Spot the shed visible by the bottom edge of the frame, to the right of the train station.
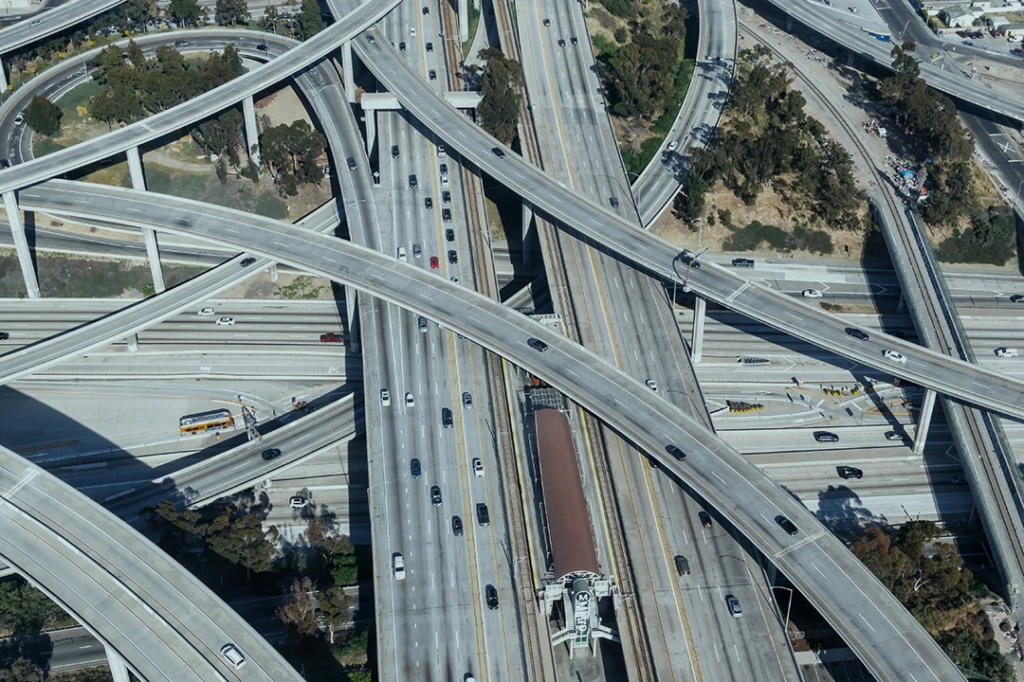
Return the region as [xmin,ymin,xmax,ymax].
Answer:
[791,640,812,666]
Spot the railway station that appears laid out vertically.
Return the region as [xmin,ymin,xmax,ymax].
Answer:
[512,311,620,659]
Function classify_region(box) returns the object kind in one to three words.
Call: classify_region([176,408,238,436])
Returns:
bus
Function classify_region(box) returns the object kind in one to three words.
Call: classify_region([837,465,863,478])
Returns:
vehicle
